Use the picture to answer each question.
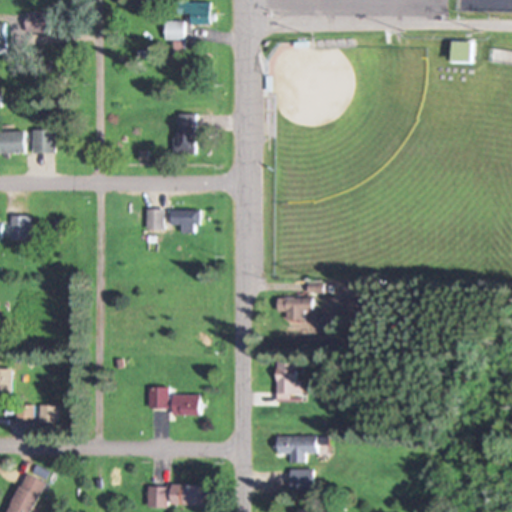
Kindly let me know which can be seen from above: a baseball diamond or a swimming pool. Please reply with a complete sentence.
It is a baseball diamond that can be seen here.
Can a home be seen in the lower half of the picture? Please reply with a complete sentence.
Yes, a home appears in the lower half of the picture.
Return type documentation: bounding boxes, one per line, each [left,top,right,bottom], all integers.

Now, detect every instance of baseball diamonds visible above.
[268,42,428,202]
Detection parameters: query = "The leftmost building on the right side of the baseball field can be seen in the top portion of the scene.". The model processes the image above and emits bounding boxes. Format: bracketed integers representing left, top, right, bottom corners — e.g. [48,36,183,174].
[450,40,474,64]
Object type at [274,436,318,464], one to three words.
house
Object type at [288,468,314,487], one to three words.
building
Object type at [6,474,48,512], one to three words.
house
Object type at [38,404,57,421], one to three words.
shed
